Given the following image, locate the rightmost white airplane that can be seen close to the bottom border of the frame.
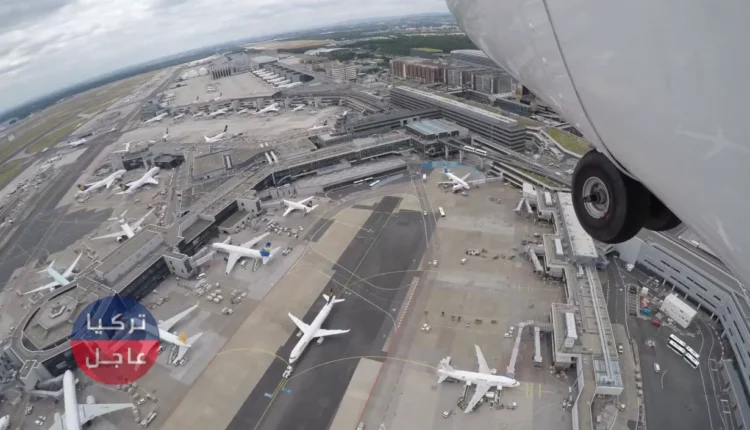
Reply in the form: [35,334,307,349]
[438,341,518,409]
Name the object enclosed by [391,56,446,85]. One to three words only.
building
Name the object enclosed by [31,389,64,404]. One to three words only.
jet bridge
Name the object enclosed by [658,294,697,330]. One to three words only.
building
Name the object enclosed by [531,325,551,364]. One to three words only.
jet bridge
